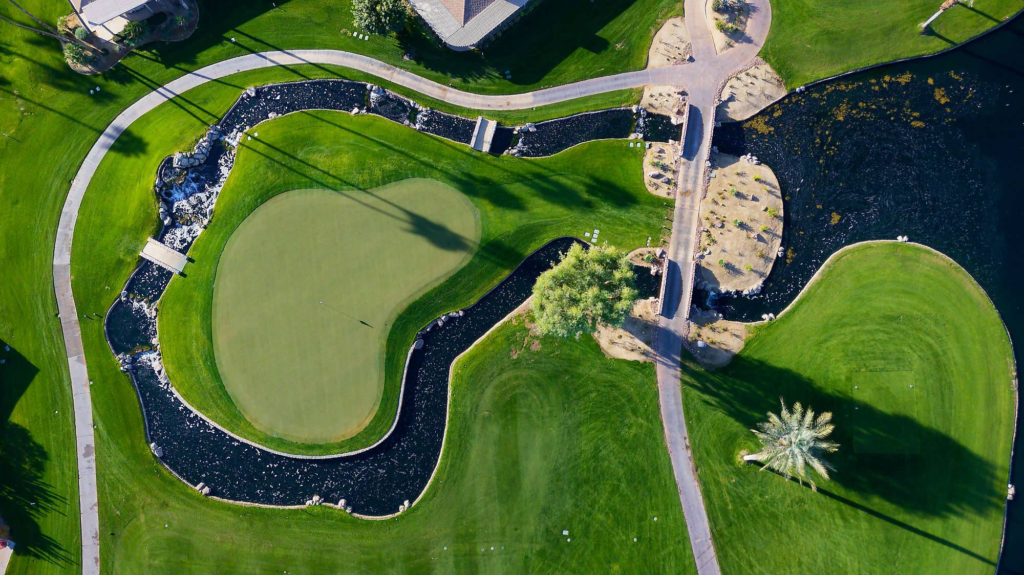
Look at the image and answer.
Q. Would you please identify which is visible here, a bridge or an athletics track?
bridge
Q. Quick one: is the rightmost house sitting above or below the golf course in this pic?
above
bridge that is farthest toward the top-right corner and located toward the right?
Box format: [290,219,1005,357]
[679,101,717,160]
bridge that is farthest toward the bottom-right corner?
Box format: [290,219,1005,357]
[657,257,696,319]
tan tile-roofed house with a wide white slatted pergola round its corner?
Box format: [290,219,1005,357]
[406,0,540,54]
